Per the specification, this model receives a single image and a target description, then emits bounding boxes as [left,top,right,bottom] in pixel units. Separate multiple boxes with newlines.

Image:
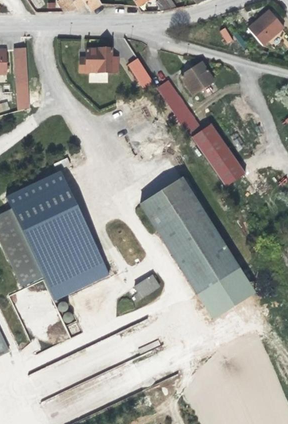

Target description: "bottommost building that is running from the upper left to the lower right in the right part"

[141,176,256,318]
